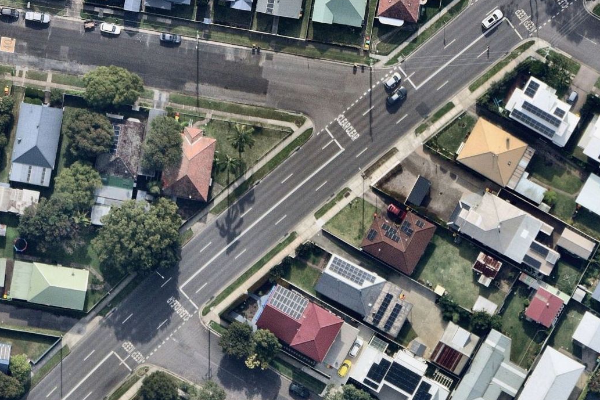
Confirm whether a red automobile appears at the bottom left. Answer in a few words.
No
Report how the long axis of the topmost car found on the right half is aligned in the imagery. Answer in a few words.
diagonally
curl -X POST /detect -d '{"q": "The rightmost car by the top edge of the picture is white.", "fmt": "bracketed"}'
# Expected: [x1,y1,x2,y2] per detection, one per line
[482,9,504,28]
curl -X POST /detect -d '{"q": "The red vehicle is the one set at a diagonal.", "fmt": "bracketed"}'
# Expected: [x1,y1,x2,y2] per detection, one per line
[388,203,406,220]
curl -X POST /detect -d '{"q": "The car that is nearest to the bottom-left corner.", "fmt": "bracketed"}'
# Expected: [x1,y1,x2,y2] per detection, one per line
[287,383,310,397]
